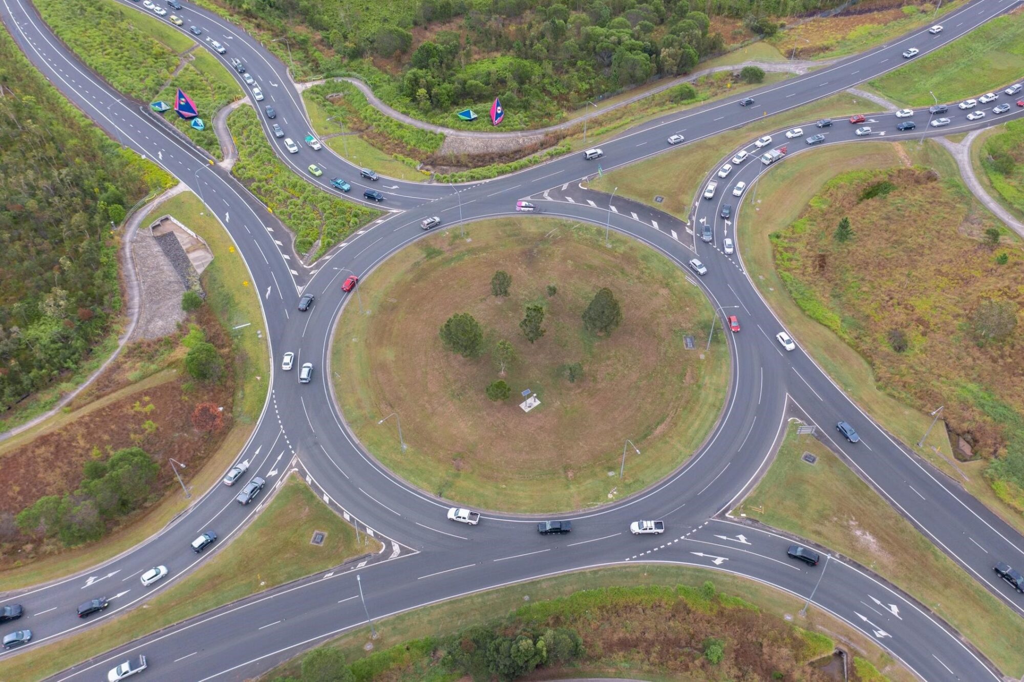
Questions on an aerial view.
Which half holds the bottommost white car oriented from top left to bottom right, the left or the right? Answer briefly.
right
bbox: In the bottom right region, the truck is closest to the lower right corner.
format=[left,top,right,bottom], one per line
[991,562,1024,595]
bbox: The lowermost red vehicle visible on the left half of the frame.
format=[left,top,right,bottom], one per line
[340,276,359,293]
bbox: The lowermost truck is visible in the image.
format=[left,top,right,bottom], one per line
[108,653,148,682]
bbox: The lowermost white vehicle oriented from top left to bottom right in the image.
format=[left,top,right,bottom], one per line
[775,331,795,351]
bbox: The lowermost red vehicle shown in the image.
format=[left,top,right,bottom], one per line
[728,316,740,333]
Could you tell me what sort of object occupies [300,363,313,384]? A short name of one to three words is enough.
vehicle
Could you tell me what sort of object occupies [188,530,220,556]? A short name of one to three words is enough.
car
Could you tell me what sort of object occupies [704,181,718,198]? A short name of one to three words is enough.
vehicle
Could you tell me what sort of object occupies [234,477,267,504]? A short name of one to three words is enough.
truck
